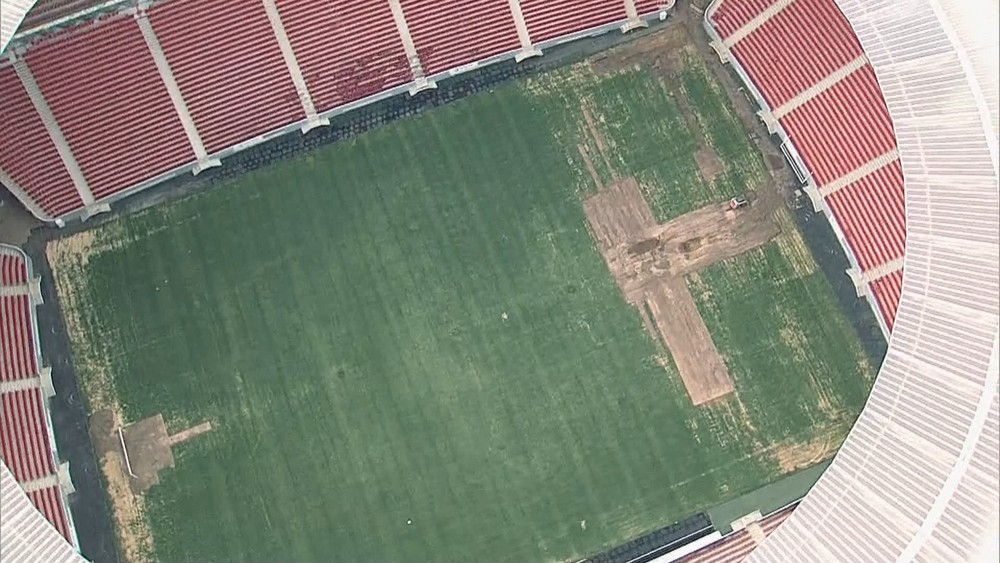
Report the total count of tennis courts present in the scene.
0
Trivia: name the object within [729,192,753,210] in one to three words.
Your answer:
work vehicle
